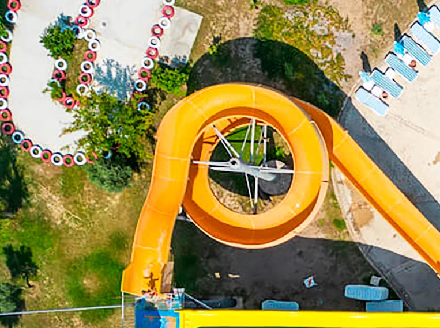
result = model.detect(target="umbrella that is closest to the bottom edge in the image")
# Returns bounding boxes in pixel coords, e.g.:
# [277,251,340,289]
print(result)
[358,69,375,90]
